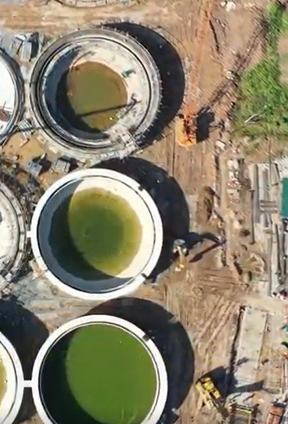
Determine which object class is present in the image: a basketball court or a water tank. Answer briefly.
water tank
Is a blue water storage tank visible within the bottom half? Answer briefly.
No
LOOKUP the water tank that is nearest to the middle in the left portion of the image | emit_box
[29,169,162,301]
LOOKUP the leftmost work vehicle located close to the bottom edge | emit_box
[186,373,234,418]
